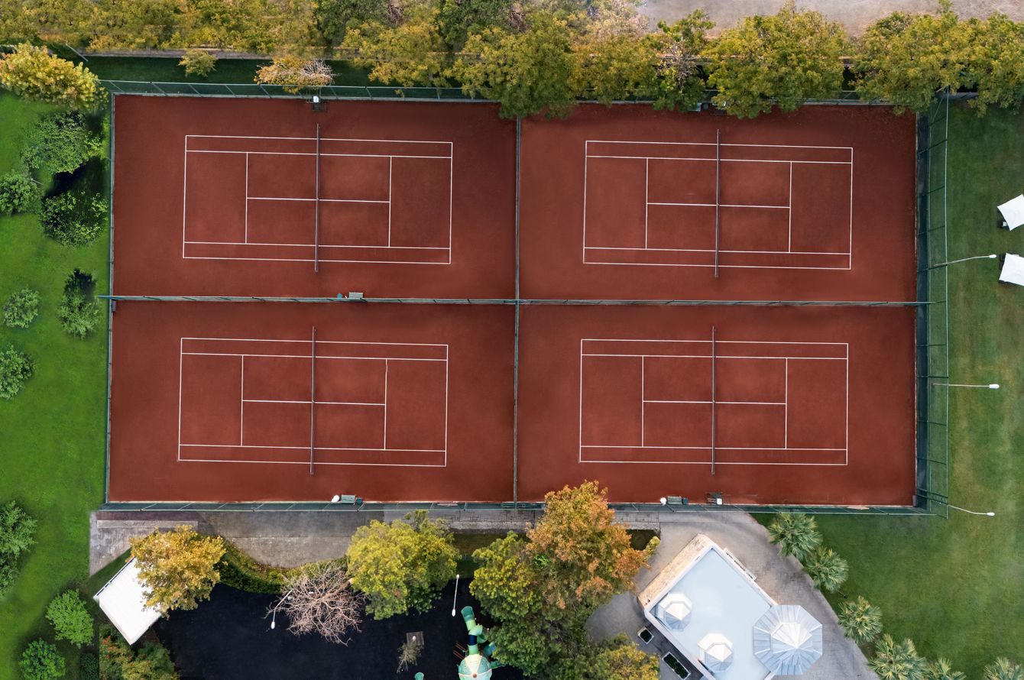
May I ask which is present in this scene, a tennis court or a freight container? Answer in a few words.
tennis court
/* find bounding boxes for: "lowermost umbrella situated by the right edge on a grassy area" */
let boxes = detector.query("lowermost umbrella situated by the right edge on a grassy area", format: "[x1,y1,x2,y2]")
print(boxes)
[995,253,1024,286]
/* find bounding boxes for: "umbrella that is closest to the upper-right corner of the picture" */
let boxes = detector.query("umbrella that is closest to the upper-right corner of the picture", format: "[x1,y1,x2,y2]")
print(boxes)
[997,194,1024,231]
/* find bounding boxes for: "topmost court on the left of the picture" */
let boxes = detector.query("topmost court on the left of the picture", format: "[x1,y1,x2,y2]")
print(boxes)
[111,95,517,303]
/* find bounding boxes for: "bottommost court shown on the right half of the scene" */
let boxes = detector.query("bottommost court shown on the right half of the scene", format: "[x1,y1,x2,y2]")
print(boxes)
[517,303,915,506]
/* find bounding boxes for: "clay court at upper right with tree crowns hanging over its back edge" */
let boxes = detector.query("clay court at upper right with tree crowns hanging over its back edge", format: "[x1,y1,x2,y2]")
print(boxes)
[518,101,916,302]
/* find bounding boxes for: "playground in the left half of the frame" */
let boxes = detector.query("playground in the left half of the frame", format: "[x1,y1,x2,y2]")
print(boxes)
[157,576,541,680]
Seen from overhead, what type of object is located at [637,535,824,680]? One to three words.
building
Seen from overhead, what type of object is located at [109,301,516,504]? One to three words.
tennis court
